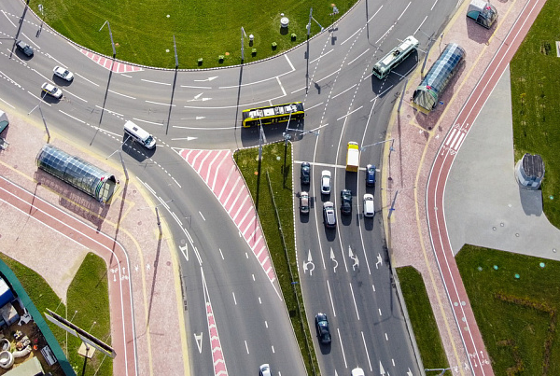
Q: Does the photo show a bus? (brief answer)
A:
Yes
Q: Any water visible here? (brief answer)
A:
No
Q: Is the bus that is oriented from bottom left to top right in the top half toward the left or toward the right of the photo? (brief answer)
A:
right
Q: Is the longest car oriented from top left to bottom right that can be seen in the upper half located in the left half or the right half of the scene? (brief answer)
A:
left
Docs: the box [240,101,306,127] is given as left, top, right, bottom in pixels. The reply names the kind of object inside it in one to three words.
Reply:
bus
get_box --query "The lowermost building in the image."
[1,303,21,329]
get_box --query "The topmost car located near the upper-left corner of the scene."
[14,39,36,57]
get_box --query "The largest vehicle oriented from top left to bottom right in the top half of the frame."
[123,120,157,149]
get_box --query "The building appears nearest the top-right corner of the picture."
[468,0,495,27]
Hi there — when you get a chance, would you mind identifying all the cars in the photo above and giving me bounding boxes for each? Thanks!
[40,82,64,99]
[52,66,75,82]
[299,191,311,216]
[259,362,272,376]
[363,195,375,219]
[366,164,377,186]
[324,203,337,228]
[352,369,364,376]
[340,191,352,216]
[315,314,331,344]
[14,39,36,57]
[123,120,157,149]
[321,170,332,195]
[300,162,312,185]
